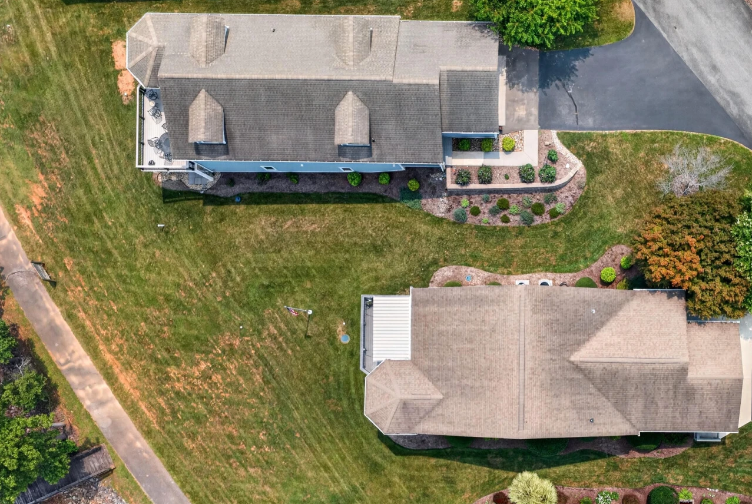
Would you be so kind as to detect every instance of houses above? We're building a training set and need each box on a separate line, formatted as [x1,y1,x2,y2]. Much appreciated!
[125,11,502,172]
[363,284,744,447]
